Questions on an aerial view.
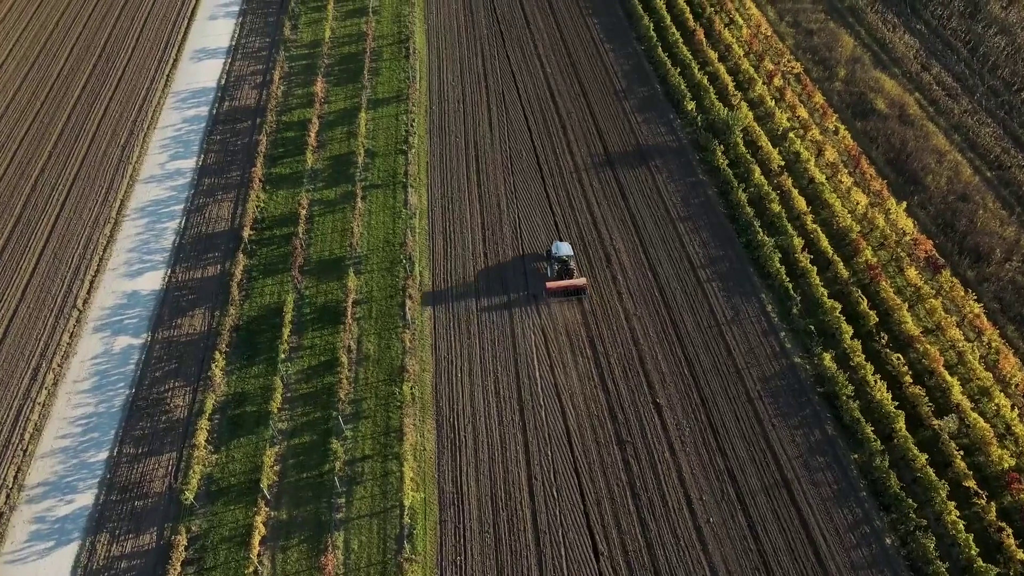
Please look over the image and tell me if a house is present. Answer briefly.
No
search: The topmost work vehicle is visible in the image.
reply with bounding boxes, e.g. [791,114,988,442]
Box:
[544,240,578,283]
